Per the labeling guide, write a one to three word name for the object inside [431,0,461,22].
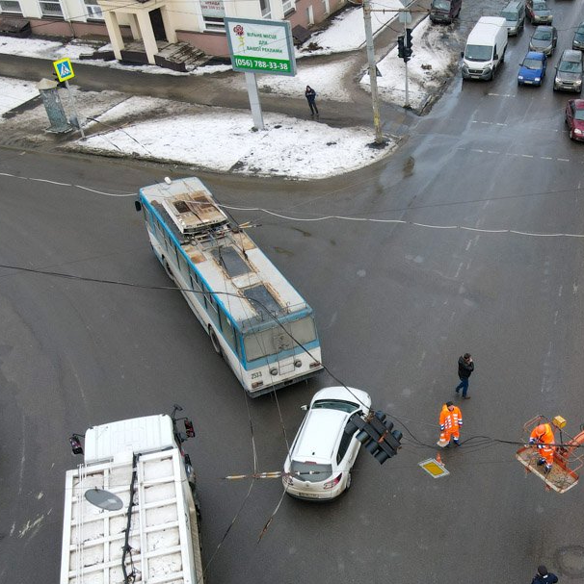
car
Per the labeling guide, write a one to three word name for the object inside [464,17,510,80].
van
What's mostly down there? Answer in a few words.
paved ground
